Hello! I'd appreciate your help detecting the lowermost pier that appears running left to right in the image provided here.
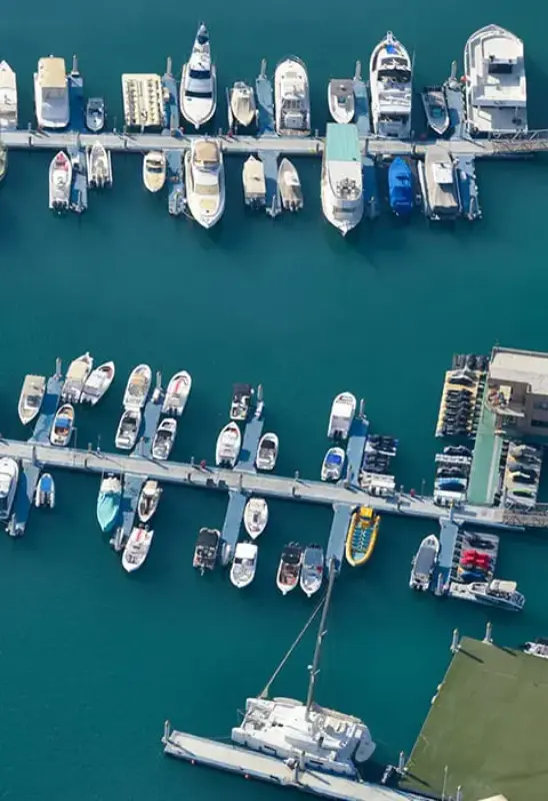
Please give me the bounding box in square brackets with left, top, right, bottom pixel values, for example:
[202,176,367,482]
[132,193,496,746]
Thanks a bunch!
[163,733,420,801]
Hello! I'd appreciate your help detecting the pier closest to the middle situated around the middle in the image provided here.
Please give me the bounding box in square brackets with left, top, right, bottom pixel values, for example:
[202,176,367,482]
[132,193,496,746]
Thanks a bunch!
[235,411,265,472]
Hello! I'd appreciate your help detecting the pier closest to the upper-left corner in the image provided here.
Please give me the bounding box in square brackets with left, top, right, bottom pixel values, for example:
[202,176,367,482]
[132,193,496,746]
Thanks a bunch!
[61,74,91,133]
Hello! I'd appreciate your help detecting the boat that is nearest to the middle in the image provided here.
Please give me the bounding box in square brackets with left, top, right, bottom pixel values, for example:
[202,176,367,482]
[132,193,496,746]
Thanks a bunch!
[230,382,254,423]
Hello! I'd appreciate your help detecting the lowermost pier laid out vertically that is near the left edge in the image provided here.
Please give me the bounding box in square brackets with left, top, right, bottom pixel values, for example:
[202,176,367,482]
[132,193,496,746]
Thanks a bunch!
[5,465,45,535]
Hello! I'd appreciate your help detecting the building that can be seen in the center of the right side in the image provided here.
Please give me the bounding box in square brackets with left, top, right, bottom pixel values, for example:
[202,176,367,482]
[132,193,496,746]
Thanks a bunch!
[484,343,548,441]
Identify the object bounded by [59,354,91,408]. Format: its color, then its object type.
white boat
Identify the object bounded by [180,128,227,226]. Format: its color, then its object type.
white boat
